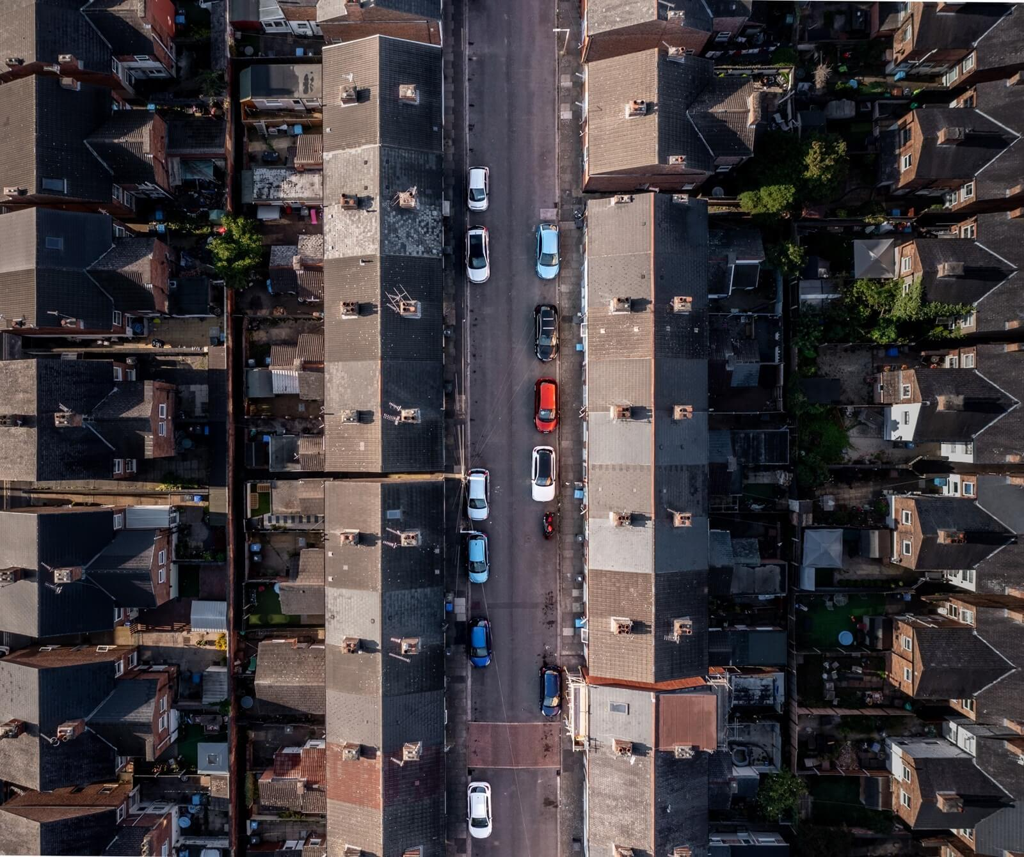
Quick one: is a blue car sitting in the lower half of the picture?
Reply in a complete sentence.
Yes, a blue car appears in the lower half of the picture.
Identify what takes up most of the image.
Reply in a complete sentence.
For the most part, this view shows buildings.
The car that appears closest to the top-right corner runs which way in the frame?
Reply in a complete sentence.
The car that appears closest to the top-right corner is laid out up and down.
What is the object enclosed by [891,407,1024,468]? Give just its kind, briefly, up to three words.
house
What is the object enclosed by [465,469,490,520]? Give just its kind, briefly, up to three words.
car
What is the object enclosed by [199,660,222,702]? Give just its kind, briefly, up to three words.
shed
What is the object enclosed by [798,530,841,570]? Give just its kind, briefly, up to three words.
gazebo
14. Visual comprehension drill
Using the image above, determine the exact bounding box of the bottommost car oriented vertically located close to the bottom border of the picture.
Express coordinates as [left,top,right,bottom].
[463,782,489,838]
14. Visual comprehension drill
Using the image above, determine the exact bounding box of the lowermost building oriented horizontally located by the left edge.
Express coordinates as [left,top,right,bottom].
[0,784,173,857]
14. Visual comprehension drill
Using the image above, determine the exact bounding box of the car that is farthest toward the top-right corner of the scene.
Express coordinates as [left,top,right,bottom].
[536,223,563,281]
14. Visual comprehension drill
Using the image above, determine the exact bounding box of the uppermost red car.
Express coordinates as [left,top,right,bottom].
[534,378,560,434]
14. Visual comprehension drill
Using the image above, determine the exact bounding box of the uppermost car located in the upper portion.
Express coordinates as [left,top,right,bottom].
[468,166,492,211]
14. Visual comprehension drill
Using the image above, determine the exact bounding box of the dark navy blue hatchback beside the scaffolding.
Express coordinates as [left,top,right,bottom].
[536,666,561,717]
